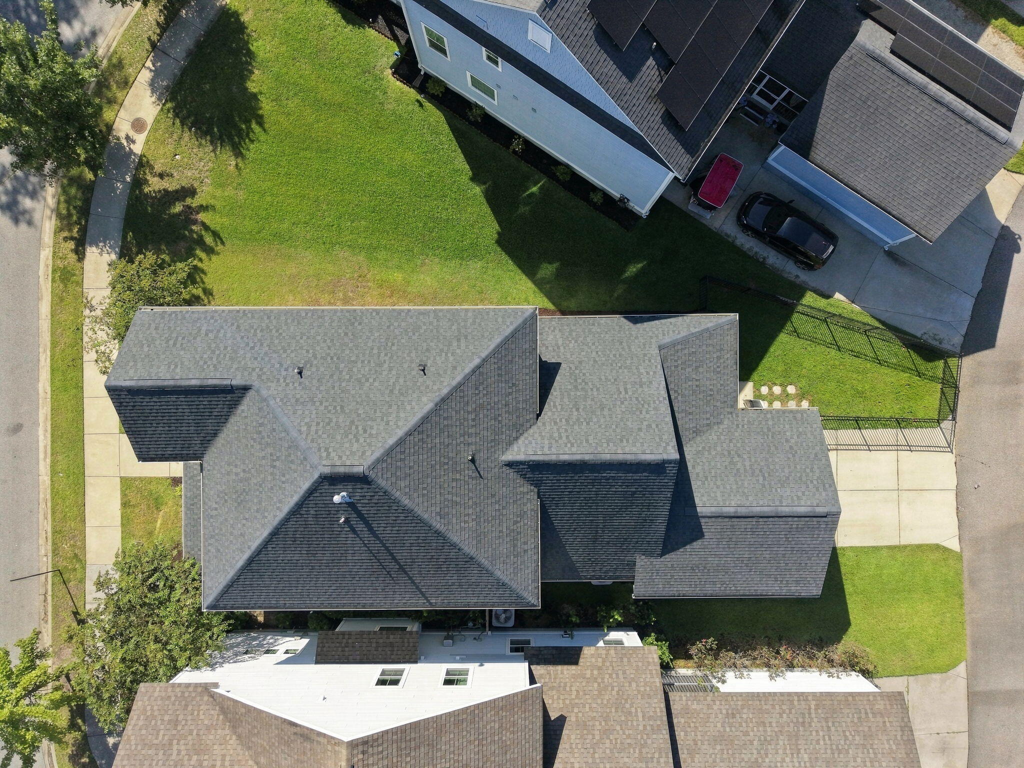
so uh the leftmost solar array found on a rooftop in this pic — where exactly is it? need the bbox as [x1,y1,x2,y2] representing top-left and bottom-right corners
[587,0,773,131]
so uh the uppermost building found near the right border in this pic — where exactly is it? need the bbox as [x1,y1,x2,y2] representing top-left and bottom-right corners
[737,0,1024,255]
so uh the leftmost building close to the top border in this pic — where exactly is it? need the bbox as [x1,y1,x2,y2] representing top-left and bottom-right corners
[387,0,813,218]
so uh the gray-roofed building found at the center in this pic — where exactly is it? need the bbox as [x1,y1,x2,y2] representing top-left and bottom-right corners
[107,302,843,612]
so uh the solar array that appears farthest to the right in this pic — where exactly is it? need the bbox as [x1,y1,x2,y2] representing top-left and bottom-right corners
[847,0,1024,130]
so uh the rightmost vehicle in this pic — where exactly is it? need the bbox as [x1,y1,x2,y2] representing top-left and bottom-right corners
[735,191,844,274]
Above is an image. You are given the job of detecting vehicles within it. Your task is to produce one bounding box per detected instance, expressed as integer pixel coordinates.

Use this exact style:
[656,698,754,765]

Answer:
[684,152,744,224]
[735,191,844,274]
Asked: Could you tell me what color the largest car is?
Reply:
black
